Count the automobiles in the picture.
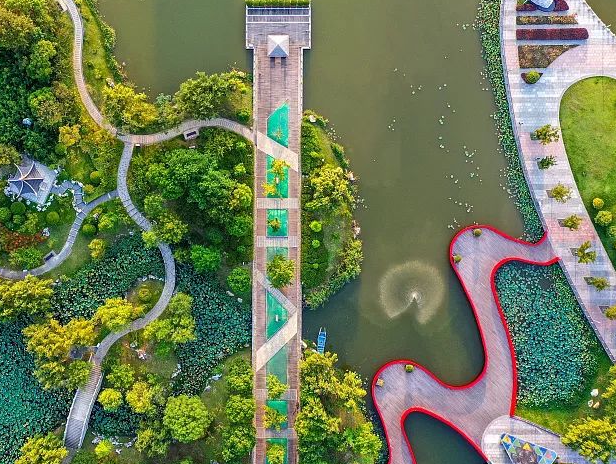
0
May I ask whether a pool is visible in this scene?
Yes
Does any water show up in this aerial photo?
Yes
